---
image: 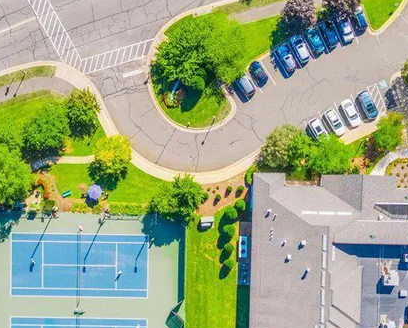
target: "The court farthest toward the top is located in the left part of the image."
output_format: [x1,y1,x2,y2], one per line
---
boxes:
[0,213,185,307]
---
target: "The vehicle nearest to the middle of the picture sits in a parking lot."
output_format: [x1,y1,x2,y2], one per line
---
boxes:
[234,71,257,101]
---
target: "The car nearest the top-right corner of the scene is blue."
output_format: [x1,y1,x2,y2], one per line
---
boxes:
[352,7,370,35]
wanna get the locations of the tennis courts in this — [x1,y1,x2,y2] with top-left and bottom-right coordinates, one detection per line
[0,213,185,307]
[0,307,185,328]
